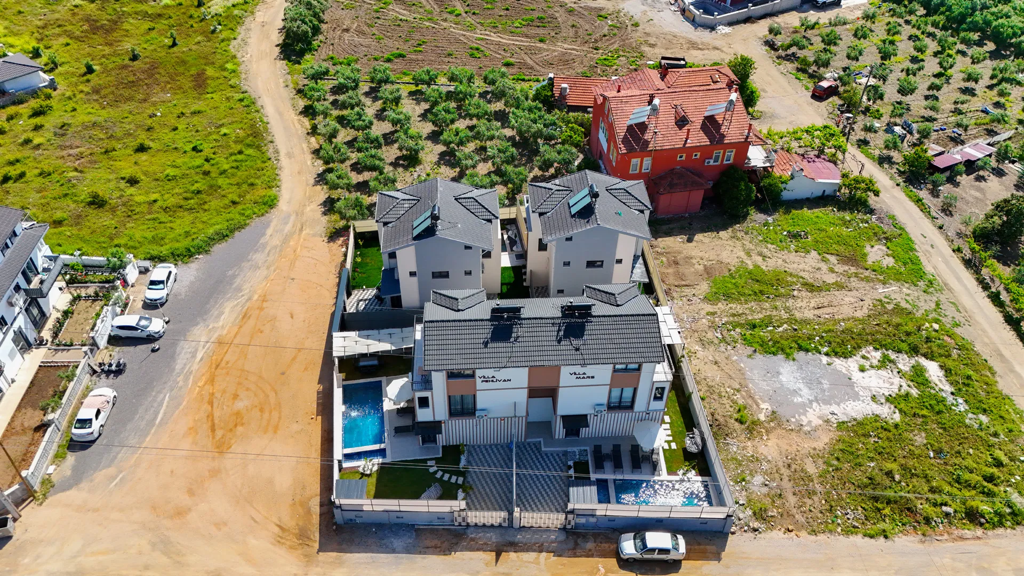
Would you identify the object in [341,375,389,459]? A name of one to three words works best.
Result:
swimming pool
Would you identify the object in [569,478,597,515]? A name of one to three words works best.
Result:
shed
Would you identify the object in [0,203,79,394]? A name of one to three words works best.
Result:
house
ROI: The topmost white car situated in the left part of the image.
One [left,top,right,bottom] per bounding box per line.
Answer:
[140,261,177,302]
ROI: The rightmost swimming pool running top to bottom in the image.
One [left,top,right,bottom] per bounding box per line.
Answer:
[593,473,610,507]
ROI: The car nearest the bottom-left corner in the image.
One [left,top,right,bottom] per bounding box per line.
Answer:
[65,386,117,438]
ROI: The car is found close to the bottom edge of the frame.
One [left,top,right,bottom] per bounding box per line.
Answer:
[617,528,687,562]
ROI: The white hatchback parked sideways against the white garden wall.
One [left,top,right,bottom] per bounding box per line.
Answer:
[106,308,168,337]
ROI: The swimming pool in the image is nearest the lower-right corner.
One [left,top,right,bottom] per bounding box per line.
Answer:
[606,474,719,511]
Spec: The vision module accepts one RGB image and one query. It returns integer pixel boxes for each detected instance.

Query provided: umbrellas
[629,421,667,454]
[382,380,415,414]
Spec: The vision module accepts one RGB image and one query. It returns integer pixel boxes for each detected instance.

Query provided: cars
[140,261,177,302]
[65,386,117,438]
[617,528,687,562]
[812,80,841,97]
[106,308,168,337]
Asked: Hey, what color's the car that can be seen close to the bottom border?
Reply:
white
